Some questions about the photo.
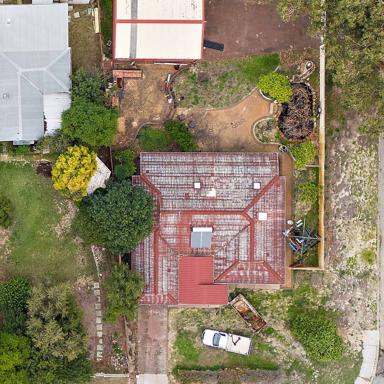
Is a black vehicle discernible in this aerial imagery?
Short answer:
No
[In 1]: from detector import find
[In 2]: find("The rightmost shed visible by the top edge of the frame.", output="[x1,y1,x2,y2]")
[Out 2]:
[114,0,204,61]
